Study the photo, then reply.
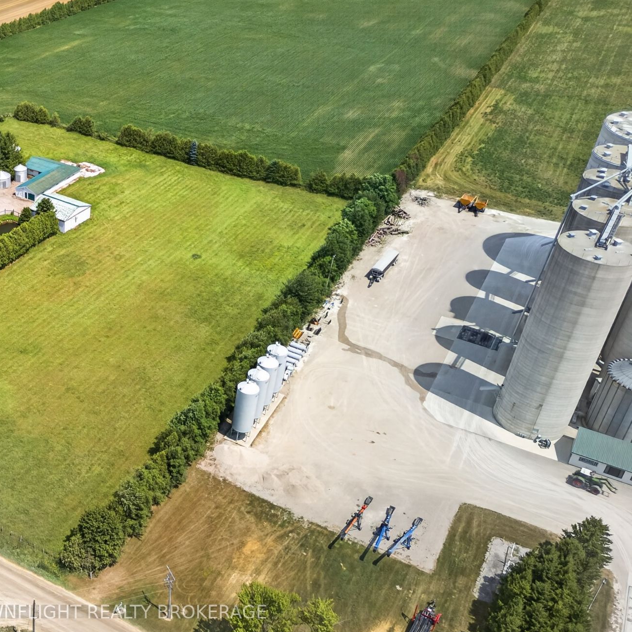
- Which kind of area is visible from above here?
industrial area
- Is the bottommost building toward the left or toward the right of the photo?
right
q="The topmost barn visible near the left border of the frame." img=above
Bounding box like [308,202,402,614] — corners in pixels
[14,156,79,201]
